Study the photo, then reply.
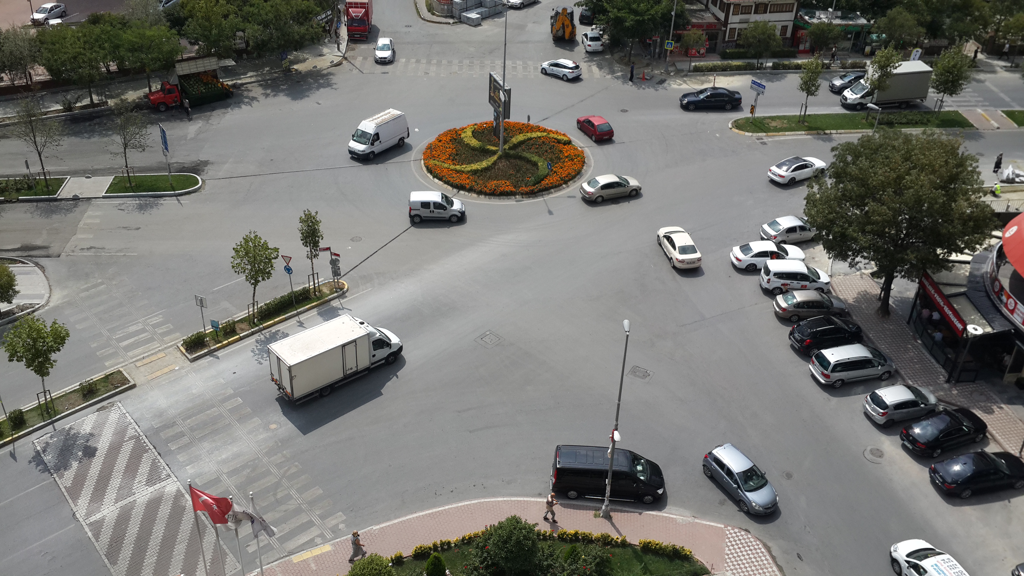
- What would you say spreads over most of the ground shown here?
paved ground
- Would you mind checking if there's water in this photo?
No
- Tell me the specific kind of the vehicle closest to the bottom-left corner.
truck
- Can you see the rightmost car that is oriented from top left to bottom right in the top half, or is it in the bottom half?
bottom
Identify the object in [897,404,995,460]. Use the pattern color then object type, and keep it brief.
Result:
black car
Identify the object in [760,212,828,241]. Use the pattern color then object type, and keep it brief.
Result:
gray car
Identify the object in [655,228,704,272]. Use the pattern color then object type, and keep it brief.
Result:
white car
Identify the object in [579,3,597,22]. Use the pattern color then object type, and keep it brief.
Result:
black car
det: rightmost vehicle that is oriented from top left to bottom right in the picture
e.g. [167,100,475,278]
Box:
[701,440,784,519]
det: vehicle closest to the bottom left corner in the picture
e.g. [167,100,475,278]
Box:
[271,307,409,405]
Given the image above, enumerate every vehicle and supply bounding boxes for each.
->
[838,65,927,110]
[926,445,1024,500]
[655,228,704,272]
[506,0,531,8]
[271,307,409,405]
[348,109,410,160]
[575,114,616,142]
[678,87,742,110]
[577,173,644,204]
[701,440,784,519]
[760,212,828,241]
[370,37,396,62]
[885,536,999,576]
[728,237,806,272]
[768,285,852,322]
[830,71,862,91]
[769,154,828,185]
[536,57,585,81]
[581,32,606,54]
[754,254,832,293]
[404,190,466,223]
[26,0,71,23]
[342,0,383,36]
[579,3,597,22]
[897,404,995,460]
[788,312,866,356]
[141,56,230,110]
[859,379,941,428]
[551,2,576,37]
